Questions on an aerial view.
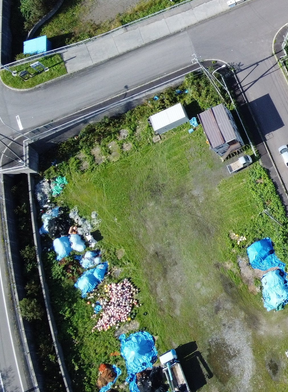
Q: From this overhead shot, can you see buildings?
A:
Yes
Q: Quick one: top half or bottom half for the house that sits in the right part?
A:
top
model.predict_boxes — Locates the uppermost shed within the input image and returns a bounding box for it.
[22,36,54,60]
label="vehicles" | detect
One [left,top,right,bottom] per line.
[228,154,251,171]
[157,352,189,392]
[279,144,288,169]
